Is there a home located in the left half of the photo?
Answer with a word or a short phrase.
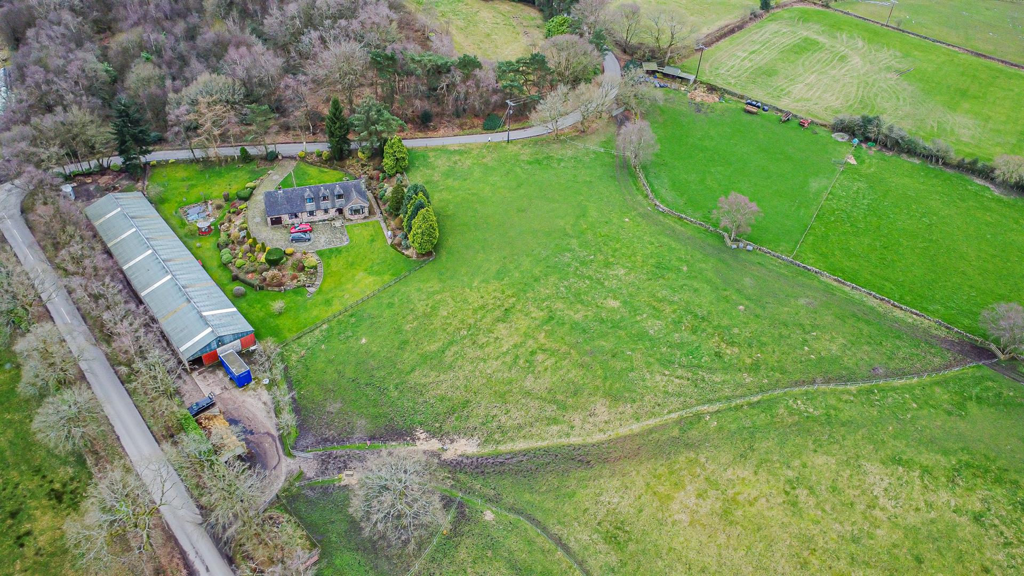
Yes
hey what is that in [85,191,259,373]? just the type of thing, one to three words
barn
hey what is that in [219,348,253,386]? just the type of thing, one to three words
trailer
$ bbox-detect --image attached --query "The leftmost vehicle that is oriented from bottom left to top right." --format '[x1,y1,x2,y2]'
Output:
[188,395,221,421]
